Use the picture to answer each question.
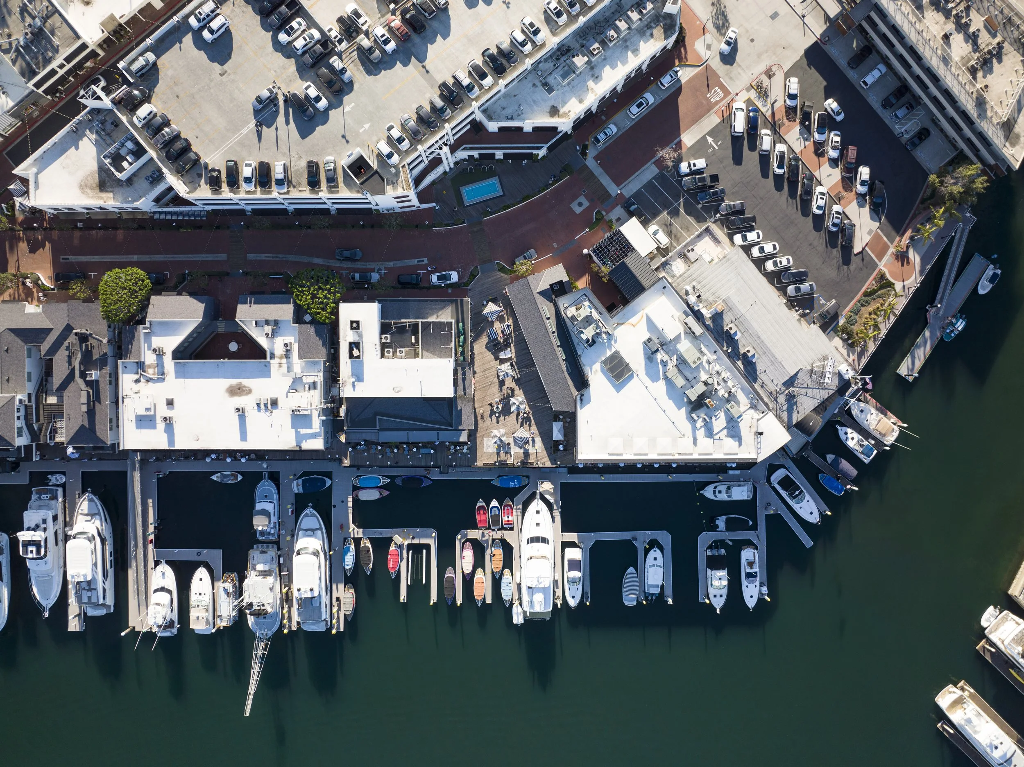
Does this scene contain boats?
Yes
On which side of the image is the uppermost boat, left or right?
right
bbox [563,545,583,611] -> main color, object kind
white boat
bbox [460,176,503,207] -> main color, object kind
blue swimming pool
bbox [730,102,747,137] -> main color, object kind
white car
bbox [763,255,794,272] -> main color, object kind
white car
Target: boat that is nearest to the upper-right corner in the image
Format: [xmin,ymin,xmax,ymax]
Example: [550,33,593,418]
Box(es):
[973,261,1000,294]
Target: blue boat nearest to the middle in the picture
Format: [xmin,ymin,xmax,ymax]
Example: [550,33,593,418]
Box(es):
[491,474,529,488]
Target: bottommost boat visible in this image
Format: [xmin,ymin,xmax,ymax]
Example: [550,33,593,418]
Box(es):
[926,679,1022,767]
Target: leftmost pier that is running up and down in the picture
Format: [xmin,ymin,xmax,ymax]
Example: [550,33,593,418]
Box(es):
[65,471,85,631]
